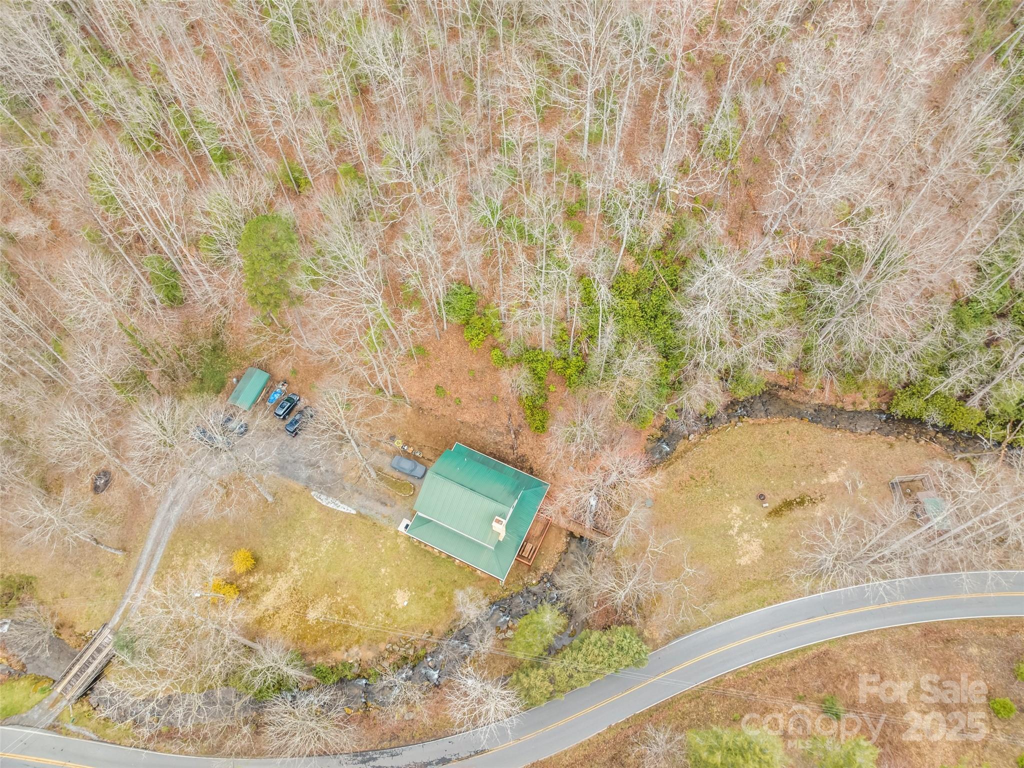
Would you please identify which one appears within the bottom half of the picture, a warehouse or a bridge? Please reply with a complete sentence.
You can see a bridge within the bottom half of the picture.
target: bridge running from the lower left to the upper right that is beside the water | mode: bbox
[47,621,126,706]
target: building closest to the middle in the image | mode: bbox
[405,442,551,586]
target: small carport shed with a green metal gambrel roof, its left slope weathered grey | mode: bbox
[226,368,274,417]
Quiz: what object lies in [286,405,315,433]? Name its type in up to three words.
car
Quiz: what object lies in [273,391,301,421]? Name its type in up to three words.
car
